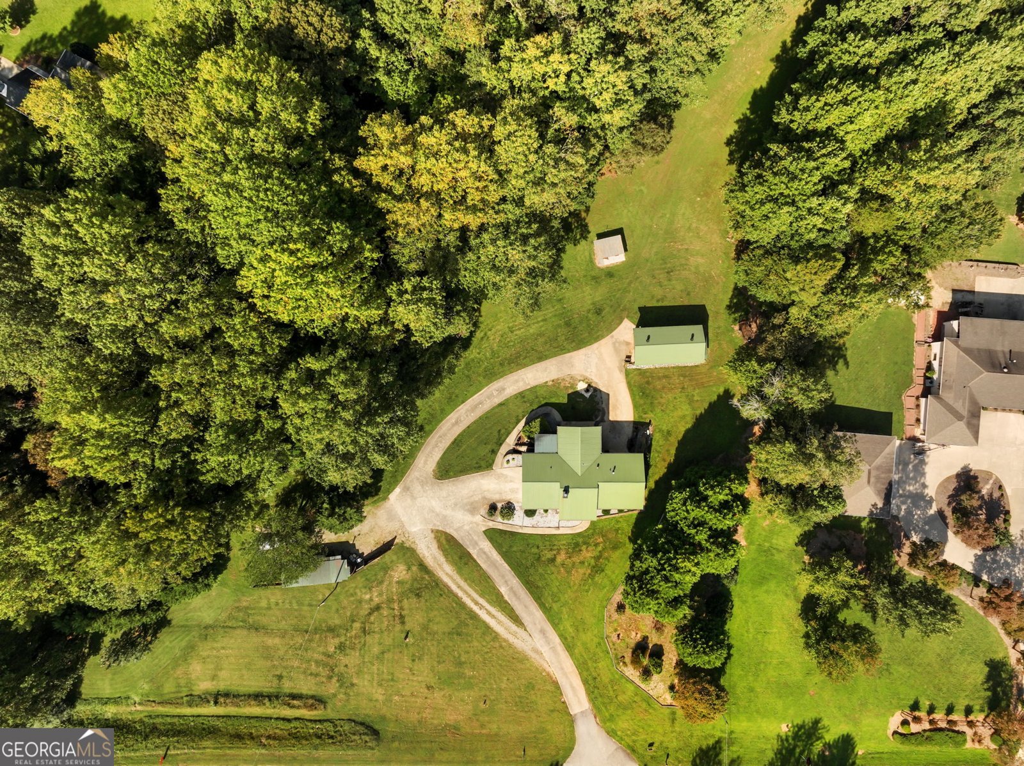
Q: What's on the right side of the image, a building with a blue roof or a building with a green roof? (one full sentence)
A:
It is a building with a green roof that can be seen on the right side of the image.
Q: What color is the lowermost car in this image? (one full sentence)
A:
In this view, the lowermost car is black.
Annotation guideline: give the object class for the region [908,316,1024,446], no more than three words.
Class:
house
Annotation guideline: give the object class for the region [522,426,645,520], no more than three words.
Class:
house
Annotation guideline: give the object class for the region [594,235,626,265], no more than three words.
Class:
shed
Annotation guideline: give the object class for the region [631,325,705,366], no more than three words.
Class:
building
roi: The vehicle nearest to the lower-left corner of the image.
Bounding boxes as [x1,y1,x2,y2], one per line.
[344,550,367,571]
